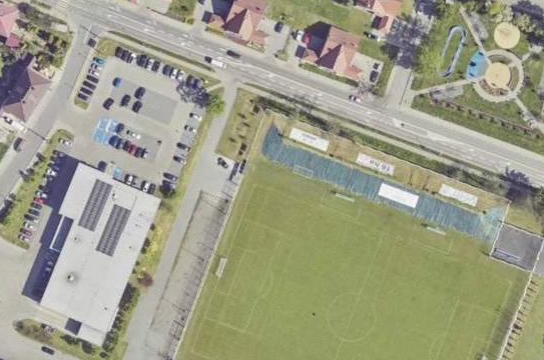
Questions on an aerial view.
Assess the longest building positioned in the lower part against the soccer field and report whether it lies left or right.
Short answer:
on its left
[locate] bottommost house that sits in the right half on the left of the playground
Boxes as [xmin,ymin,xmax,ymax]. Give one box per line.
[299,22,364,78]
